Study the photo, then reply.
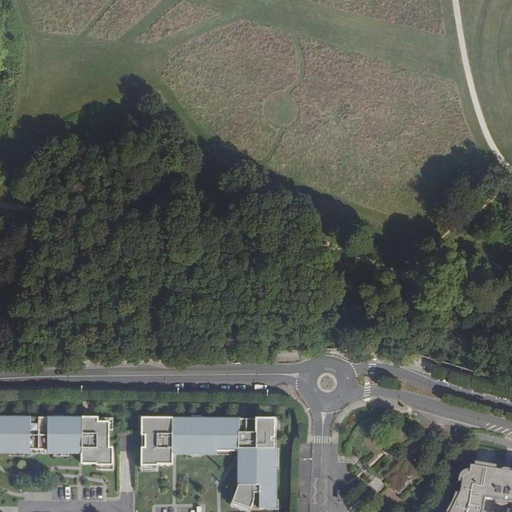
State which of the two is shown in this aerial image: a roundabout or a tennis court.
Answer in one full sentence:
Of the two, only a roundabout appears.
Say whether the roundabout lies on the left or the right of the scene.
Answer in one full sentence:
The roundabout appears in the right half of the scene.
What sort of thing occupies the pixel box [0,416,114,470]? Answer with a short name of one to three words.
building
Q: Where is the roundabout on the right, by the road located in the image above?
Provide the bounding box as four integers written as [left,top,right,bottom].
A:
[292,356,380,430]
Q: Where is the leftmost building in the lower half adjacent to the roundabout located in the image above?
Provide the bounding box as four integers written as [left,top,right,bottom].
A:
[140,416,280,512]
